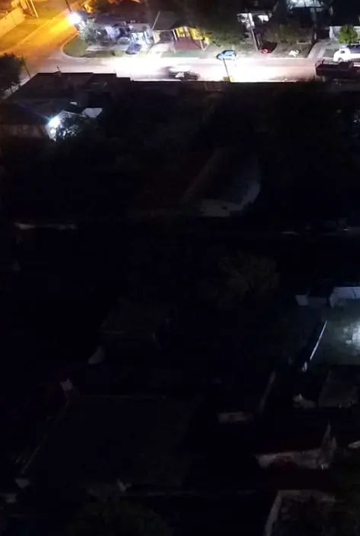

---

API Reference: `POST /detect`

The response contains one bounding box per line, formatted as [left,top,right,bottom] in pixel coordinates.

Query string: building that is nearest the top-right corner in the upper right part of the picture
[292,12,324,44]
